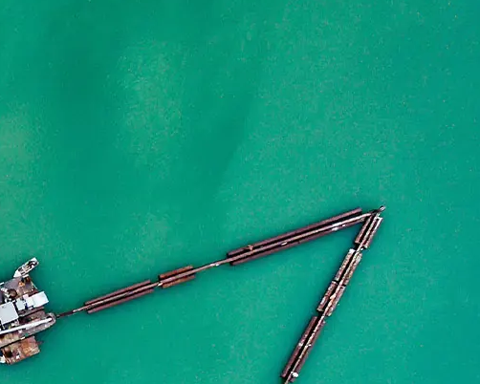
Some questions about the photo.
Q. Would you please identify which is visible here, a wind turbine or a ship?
ship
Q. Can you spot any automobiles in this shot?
No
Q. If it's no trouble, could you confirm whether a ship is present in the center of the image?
No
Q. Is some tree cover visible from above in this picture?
No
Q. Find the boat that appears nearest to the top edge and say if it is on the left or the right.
left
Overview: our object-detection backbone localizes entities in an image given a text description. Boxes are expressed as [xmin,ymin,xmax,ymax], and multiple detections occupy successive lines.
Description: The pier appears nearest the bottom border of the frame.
[280,315,326,384]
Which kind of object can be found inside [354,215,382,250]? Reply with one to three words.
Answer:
pier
